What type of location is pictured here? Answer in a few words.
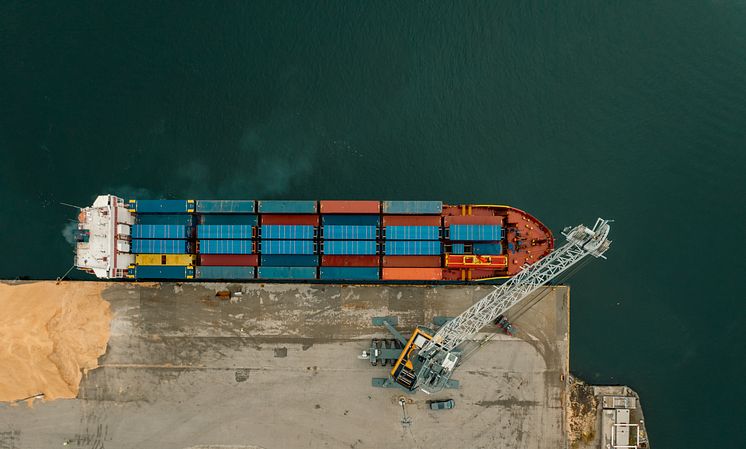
port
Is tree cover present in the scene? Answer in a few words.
No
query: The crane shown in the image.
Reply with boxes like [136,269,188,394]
[358,216,616,396]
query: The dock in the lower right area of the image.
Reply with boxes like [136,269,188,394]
[590,383,650,449]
